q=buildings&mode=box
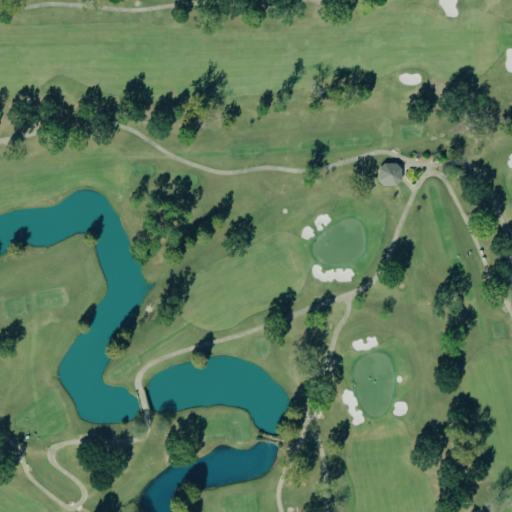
[379,163,402,186]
